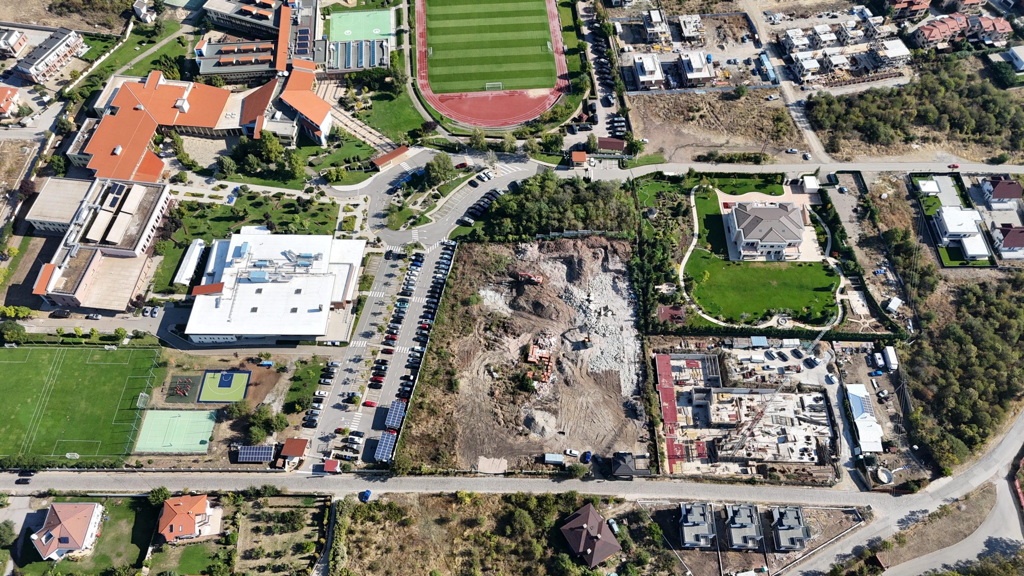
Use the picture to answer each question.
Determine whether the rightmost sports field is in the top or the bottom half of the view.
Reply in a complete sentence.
The top half of the photo is where the rightmost sports field is.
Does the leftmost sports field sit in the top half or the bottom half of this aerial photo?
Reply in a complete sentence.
It is in the bottom half that the leftmost sports field appears.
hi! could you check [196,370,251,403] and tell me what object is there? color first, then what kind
green basketball court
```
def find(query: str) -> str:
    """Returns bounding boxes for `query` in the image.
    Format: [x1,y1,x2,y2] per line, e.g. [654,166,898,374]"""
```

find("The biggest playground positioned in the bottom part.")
[165,376,201,403]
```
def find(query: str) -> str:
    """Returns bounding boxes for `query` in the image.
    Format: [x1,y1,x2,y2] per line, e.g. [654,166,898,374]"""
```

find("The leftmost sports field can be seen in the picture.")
[0,345,162,458]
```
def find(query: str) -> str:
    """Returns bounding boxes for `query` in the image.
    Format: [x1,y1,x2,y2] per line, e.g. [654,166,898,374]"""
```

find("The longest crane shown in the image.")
[728,314,839,463]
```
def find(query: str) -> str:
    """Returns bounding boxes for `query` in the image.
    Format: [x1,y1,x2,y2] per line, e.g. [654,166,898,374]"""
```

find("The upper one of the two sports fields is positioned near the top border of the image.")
[426,0,559,95]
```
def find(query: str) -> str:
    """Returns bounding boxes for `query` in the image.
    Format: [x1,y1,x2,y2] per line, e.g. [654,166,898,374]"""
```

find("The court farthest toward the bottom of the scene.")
[135,410,216,452]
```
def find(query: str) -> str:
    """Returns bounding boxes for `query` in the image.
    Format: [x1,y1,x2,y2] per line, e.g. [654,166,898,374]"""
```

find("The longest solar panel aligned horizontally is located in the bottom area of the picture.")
[239,446,274,462]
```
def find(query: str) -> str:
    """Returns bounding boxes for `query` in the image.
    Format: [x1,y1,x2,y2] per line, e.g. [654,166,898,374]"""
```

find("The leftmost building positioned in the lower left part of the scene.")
[26,503,103,562]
